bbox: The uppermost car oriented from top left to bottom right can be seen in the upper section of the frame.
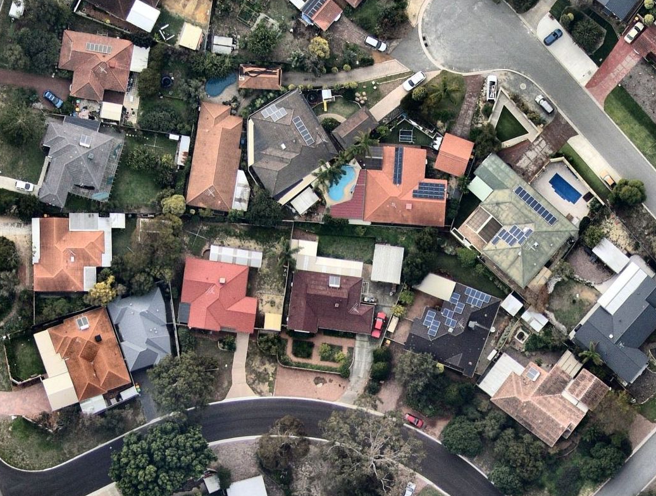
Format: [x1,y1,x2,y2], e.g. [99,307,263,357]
[364,34,389,53]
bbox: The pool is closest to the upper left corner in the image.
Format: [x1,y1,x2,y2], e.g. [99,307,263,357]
[206,76,231,98]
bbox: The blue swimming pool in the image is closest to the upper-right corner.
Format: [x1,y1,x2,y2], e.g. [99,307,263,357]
[549,173,582,204]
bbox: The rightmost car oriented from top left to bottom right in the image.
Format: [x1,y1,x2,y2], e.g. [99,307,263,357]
[599,170,618,190]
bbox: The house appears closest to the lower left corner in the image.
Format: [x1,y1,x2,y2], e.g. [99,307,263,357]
[34,306,138,414]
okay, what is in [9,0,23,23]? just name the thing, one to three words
vehicle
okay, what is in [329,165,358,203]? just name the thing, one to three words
swimming pool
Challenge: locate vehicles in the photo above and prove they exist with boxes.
[599,170,618,190]
[403,71,427,93]
[364,34,389,53]
[403,482,416,496]
[534,93,556,116]
[15,182,34,192]
[624,21,645,44]
[403,412,426,431]
[42,89,64,110]
[543,28,565,46]
[486,75,498,102]
[372,311,387,339]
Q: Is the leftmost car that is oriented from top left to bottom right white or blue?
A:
blue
